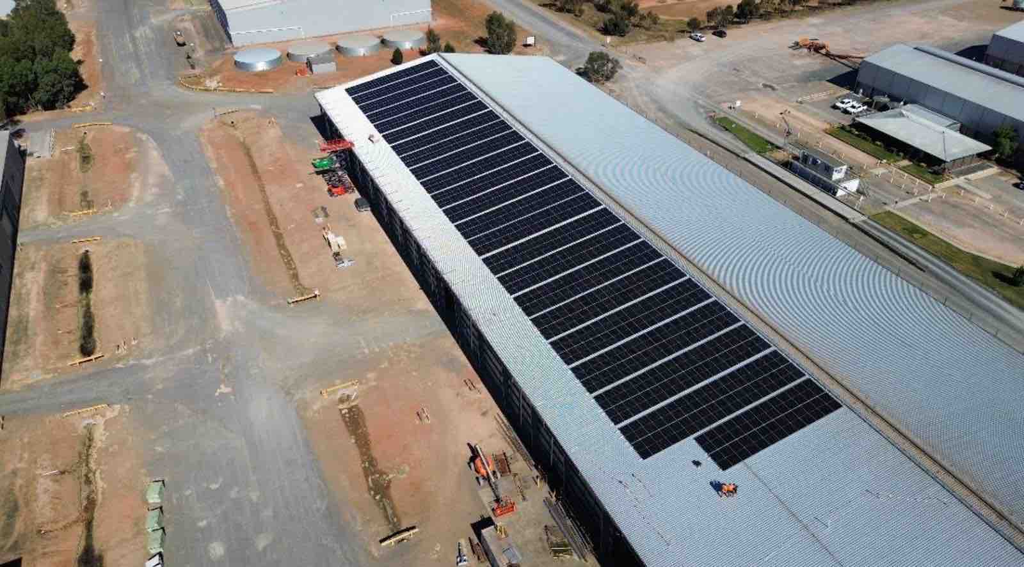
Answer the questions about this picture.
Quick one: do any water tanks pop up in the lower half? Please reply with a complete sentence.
No, I can find no water tank in the lower half.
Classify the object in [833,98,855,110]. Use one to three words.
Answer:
vehicle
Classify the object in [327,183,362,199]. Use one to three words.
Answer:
work vehicle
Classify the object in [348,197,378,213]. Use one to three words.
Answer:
car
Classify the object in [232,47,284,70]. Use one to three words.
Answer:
water tank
